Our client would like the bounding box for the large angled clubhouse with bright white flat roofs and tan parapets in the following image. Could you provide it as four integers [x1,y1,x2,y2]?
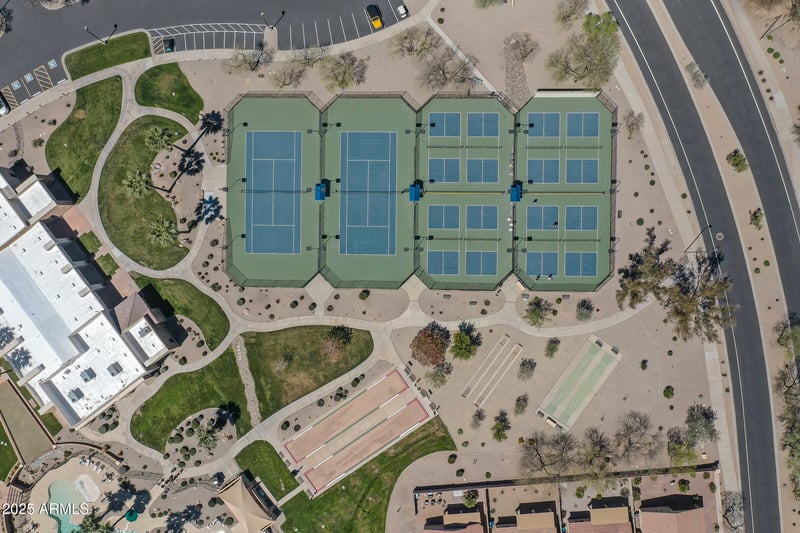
[0,153,177,426]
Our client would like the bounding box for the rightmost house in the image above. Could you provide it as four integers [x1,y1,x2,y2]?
[638,503,703,533]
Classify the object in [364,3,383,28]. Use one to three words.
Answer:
car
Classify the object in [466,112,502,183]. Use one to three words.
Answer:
sports court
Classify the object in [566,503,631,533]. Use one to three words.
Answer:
house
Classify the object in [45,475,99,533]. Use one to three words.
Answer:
swimming pool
